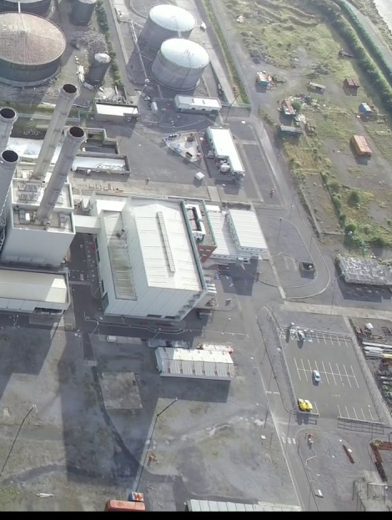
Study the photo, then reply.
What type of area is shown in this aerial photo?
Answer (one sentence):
The area seen from above is an industrial area.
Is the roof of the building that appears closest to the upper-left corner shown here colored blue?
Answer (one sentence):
No, from above the roof of the building that appears closest to the upper-left corner looks white.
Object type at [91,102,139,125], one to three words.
building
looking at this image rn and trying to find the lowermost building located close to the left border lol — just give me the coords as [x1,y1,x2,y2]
[0,269,70,314]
